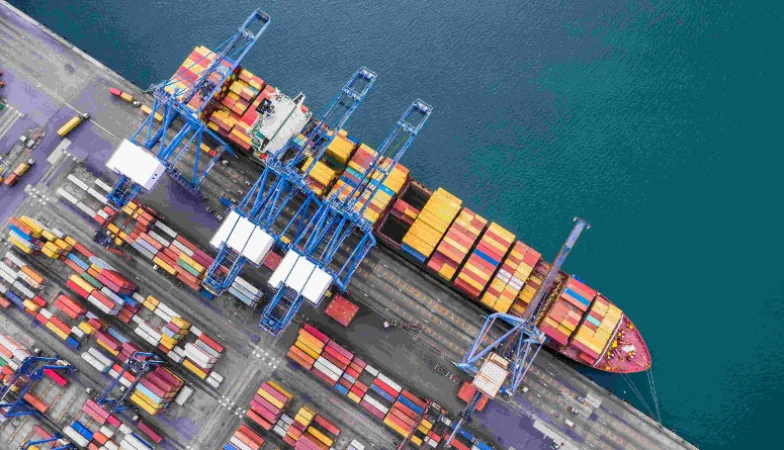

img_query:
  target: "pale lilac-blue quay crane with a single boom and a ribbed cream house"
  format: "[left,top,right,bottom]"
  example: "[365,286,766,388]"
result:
[441,212,590,449]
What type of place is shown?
port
